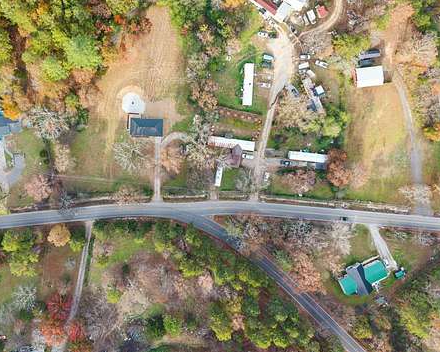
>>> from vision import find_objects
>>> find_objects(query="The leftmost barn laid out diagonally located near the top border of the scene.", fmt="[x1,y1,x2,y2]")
[245,0,279,25]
